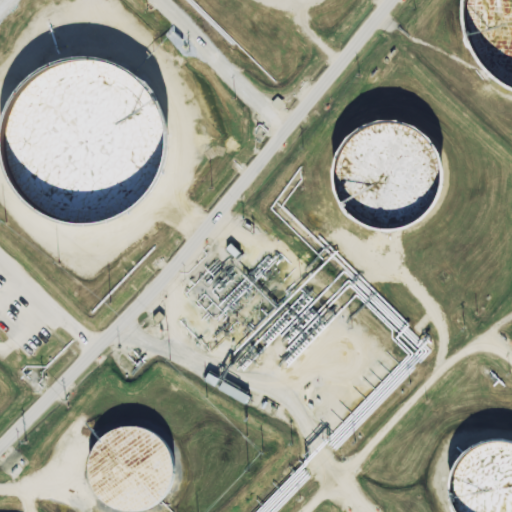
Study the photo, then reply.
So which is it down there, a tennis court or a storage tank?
storage tank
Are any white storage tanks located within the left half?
Yes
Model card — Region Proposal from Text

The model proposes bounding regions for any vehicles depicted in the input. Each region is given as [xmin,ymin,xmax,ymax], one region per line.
[0,322,8,332]
[212,212,223,224]
[19,296,28,307]
[79,333,88,344]
[13,300,22,310]
[37,331,46,342]
[10,304,19,315]
[32,336,42,346]
[0,273,7,284]
[6,308,17,320]
[27,340,36,351]
[196,36,206,46]
[40,326,50,337]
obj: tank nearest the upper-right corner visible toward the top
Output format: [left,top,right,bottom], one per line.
[460,0,512,90]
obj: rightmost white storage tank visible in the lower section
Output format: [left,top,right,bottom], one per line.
[447,434,512,512]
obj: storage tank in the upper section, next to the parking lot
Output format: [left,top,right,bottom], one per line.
[0,24,168,225]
